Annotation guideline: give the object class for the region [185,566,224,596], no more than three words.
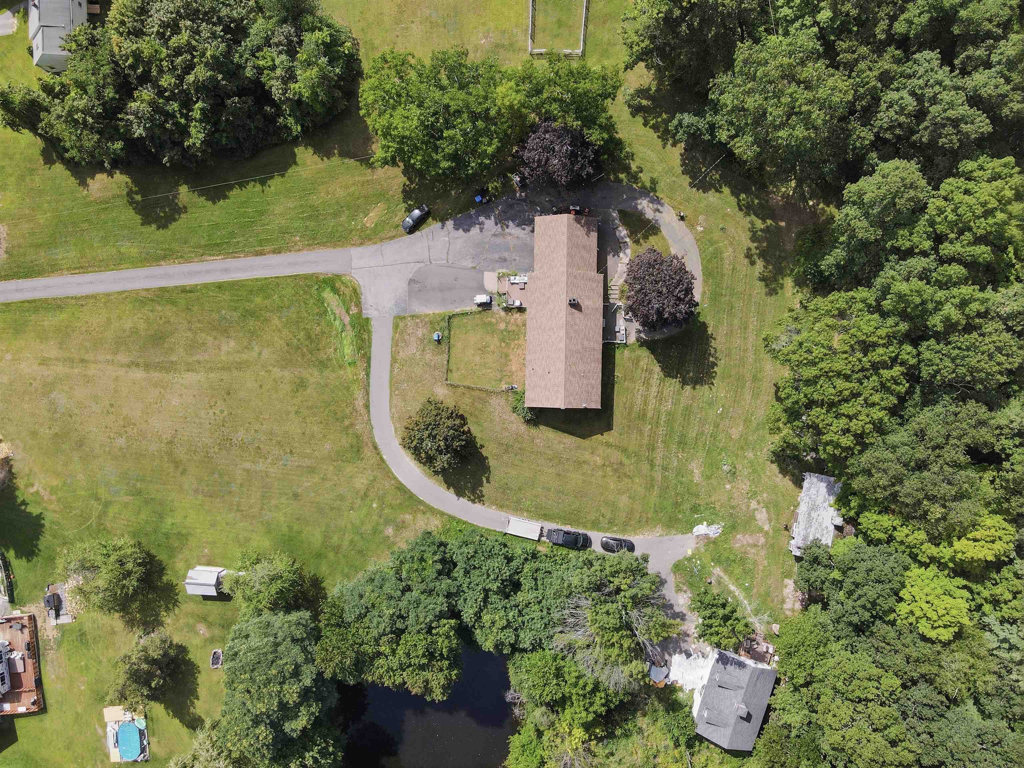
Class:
shed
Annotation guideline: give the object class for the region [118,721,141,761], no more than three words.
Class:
swimming pool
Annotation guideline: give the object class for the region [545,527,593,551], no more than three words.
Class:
truck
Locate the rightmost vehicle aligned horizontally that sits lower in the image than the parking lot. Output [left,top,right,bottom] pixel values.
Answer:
[599,534,636,555]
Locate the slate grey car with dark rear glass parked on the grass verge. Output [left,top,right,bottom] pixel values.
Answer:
[399,201,430,235]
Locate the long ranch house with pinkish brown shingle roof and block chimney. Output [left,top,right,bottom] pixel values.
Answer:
[524,214,605,410]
